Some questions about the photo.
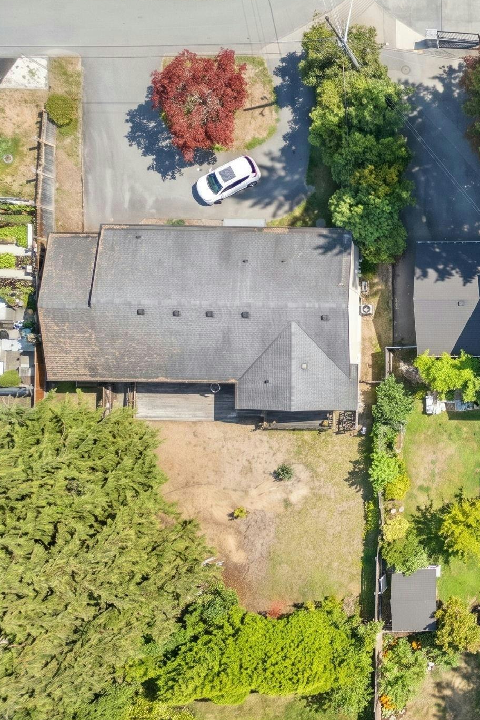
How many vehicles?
1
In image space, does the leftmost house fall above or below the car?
below it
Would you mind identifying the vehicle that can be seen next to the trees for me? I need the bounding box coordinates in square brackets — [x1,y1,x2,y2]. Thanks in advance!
[195,157,257,204]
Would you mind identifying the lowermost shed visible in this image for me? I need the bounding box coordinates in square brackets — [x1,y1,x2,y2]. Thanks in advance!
[391,565,440,633]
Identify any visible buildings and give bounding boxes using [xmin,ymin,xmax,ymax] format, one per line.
[37,225,363,411]
[391,565,440,633]
[413,241,480,358]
